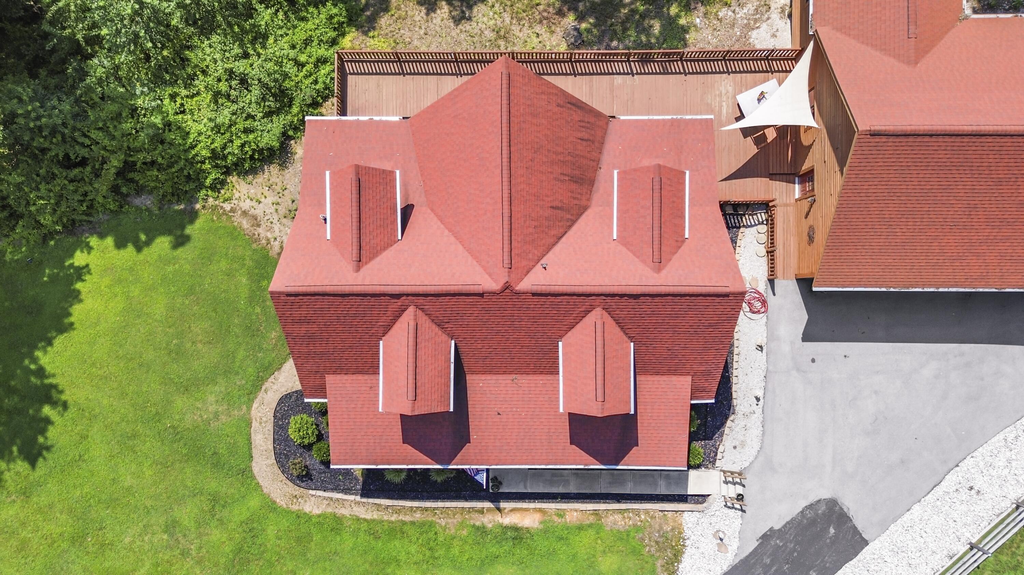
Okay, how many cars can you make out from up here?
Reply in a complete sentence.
The picture shows no cars.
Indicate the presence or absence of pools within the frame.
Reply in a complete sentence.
No, this view has no pool in it.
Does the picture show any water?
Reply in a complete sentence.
No, the picture contains no water.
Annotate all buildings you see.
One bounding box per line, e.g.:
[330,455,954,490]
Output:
[269,54,748,470]
[793,0,1024,291]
